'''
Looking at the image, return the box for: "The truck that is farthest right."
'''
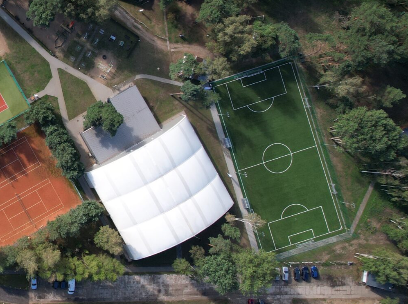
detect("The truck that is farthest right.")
[356,268,392,292]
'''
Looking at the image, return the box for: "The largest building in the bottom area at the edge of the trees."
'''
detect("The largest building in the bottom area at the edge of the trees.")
[85,115,233,259]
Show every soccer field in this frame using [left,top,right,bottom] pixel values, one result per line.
[210,60,356,255]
